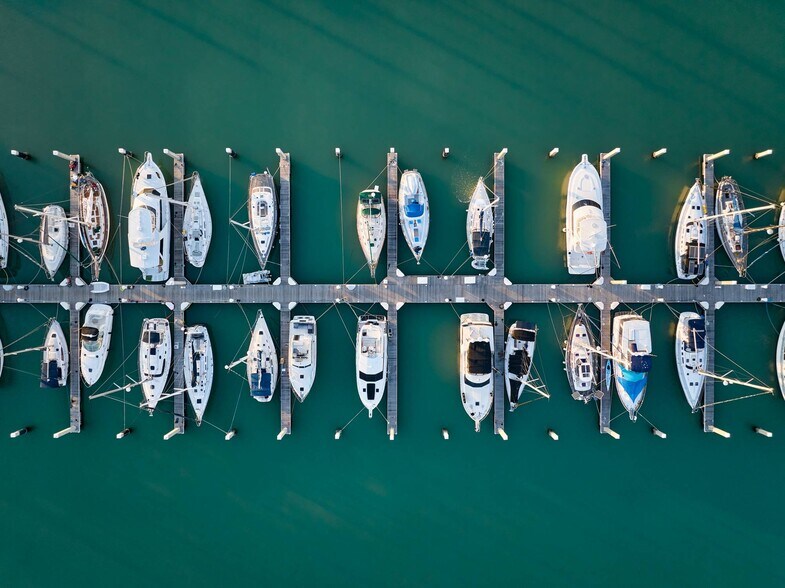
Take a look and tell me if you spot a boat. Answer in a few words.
Yes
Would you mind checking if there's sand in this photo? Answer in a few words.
No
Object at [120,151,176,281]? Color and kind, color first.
white boat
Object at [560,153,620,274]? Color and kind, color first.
white boat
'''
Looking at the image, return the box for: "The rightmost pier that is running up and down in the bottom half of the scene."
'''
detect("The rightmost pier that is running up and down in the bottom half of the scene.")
[695,304,715,435]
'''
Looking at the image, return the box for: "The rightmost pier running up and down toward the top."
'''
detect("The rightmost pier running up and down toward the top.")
[702,153,718,285]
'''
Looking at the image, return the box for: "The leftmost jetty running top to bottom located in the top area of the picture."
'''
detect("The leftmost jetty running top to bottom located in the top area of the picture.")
[69,153,82,285]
